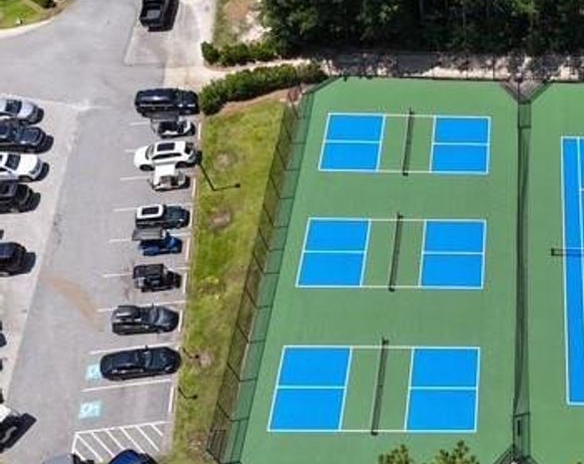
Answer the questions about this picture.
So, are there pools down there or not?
No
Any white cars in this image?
Yes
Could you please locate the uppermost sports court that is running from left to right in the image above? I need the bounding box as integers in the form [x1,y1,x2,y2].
[319,104,490,175]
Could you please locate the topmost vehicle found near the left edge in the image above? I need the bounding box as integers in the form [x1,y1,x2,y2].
[0,95,47,125]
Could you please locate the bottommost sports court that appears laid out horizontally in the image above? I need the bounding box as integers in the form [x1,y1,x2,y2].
[269,337,480,437]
